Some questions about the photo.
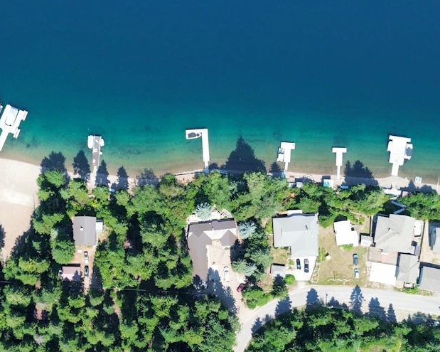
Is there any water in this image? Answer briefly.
Yes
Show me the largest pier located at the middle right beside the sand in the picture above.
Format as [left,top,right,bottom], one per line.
[387,135,411,177]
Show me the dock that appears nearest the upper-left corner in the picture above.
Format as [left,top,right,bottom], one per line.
[0,104,24,151]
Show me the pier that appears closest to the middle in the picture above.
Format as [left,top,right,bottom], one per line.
[186,129,209,174]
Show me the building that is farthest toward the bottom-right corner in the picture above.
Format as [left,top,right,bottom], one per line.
[419,266,440,292]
